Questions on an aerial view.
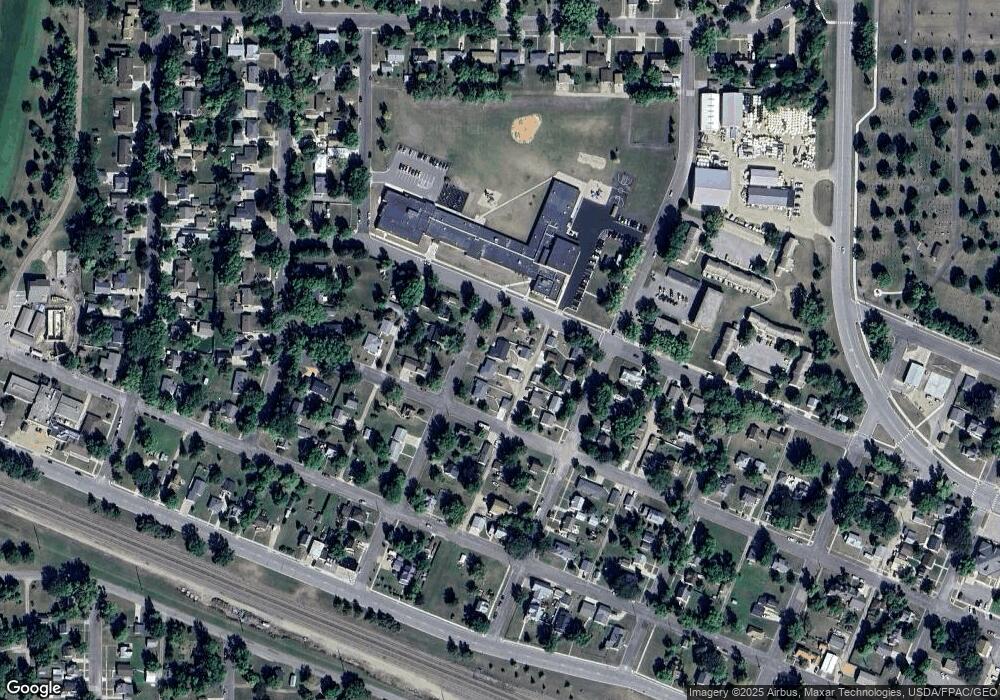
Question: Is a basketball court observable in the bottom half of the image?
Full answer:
No, I can find no basketball court in the bottom half of the image.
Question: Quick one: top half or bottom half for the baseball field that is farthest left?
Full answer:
You can find the baseball field that is farthest left in the top half.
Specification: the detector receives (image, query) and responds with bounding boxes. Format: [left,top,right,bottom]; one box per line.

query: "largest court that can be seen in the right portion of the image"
[603,170,635,212]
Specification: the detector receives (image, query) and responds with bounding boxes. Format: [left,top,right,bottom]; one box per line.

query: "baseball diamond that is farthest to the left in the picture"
[511,114,541,144]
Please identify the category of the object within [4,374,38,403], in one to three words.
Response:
building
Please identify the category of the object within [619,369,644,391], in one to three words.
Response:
house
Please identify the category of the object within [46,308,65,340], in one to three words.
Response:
shed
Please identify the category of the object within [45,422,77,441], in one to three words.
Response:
building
